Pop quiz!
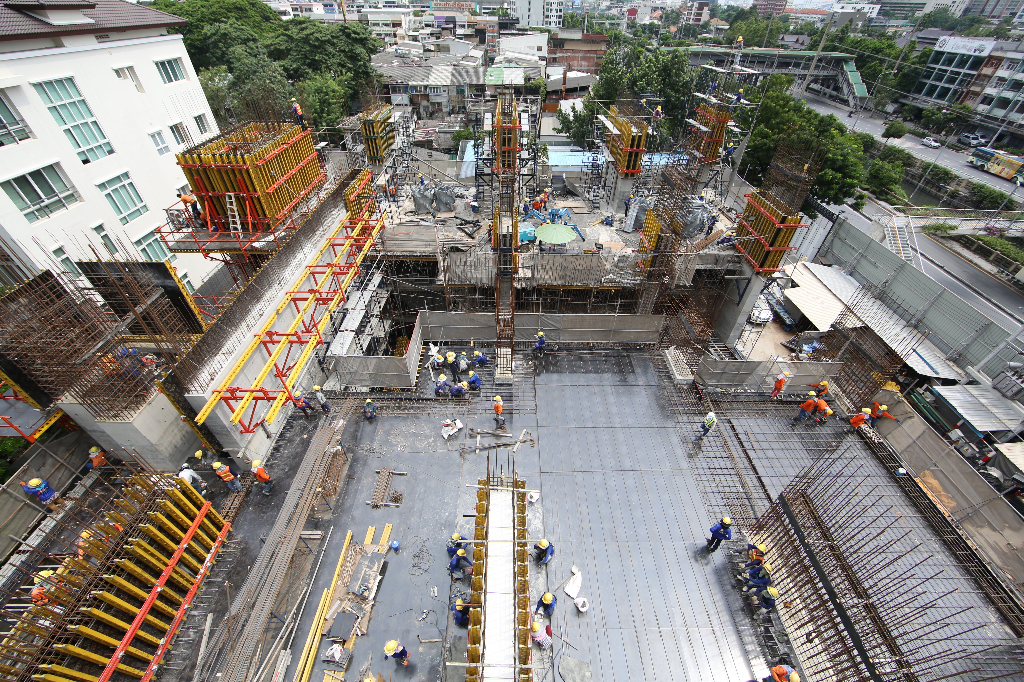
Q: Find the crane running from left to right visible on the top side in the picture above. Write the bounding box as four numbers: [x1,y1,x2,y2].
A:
[526,200,582,227]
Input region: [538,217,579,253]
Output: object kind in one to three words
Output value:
umbrella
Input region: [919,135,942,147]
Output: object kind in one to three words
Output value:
vehicle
